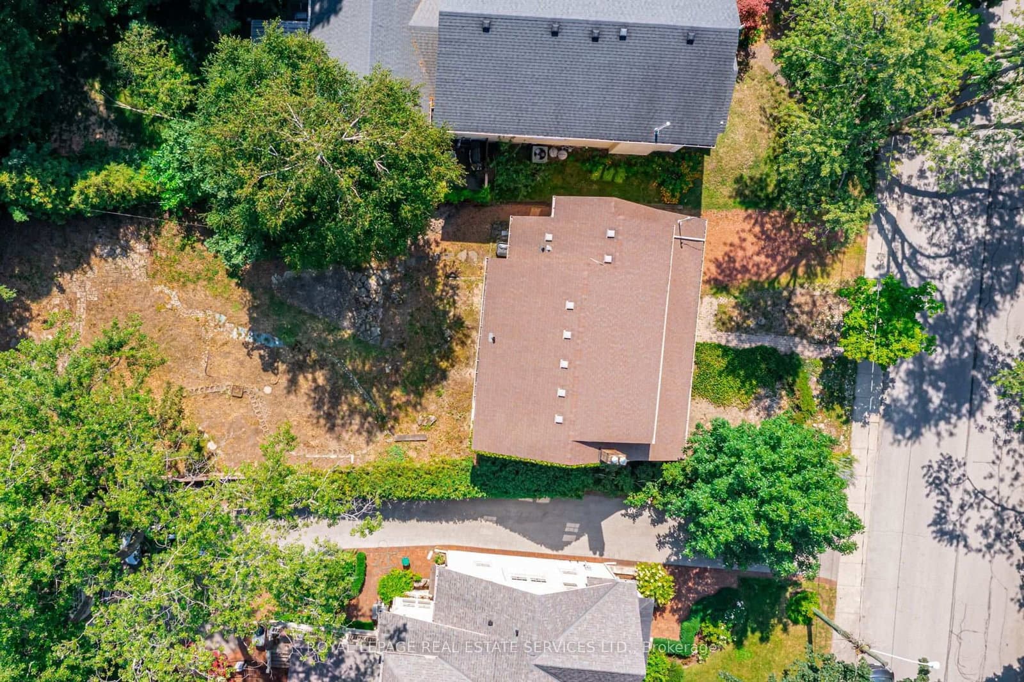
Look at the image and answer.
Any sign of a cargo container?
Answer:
No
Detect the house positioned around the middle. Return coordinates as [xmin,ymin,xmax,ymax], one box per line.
[470,197,709,465]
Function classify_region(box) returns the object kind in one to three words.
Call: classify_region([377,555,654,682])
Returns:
house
